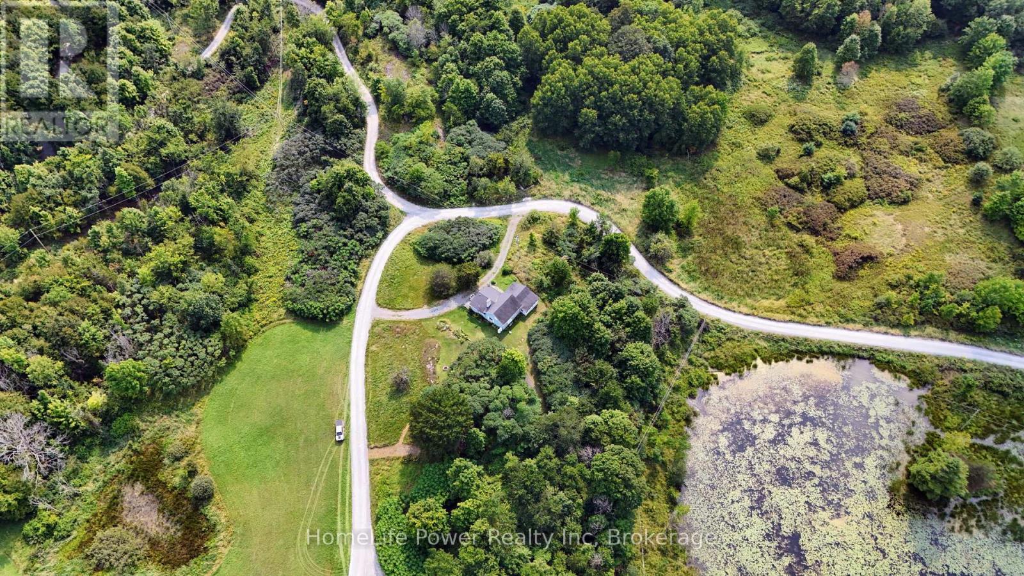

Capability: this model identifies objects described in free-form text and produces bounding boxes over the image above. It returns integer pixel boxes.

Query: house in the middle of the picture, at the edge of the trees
[465,283,541,329]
